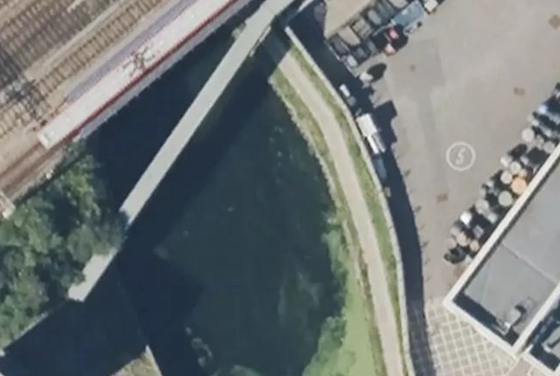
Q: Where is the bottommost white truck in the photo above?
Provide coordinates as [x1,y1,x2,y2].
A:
[353,100,387,157]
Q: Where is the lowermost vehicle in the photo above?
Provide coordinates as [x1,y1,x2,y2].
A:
[368,146,393,184]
